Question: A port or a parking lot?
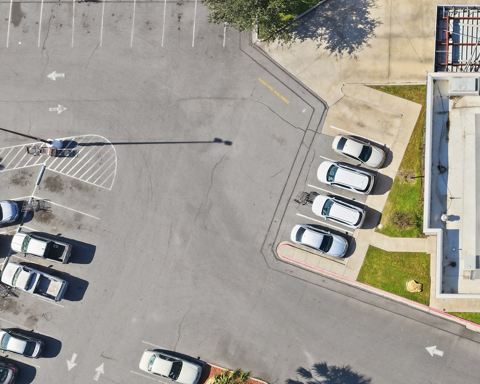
parking lot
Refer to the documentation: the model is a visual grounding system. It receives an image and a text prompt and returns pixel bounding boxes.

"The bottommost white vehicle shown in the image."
[135,349,204,384]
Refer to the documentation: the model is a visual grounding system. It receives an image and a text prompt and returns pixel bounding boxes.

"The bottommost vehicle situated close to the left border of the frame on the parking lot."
[0,360,21,384]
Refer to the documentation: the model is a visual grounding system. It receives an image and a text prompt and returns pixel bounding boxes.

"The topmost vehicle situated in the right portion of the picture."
[330,133,389,169]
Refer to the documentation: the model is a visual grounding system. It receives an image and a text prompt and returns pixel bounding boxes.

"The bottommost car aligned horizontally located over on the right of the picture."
[287,225,350,258]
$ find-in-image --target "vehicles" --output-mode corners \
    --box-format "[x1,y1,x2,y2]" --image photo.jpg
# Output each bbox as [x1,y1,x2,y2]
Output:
[5,231,74,266]
[287,225,350,258]
[315,159,376,194]
[135,349,204,384]
[0,360,21,384]
[0,202,21,227]
[0,325,46,360]
[0,265,69,303]
[330,133,389,169]
[310,194,368,230]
